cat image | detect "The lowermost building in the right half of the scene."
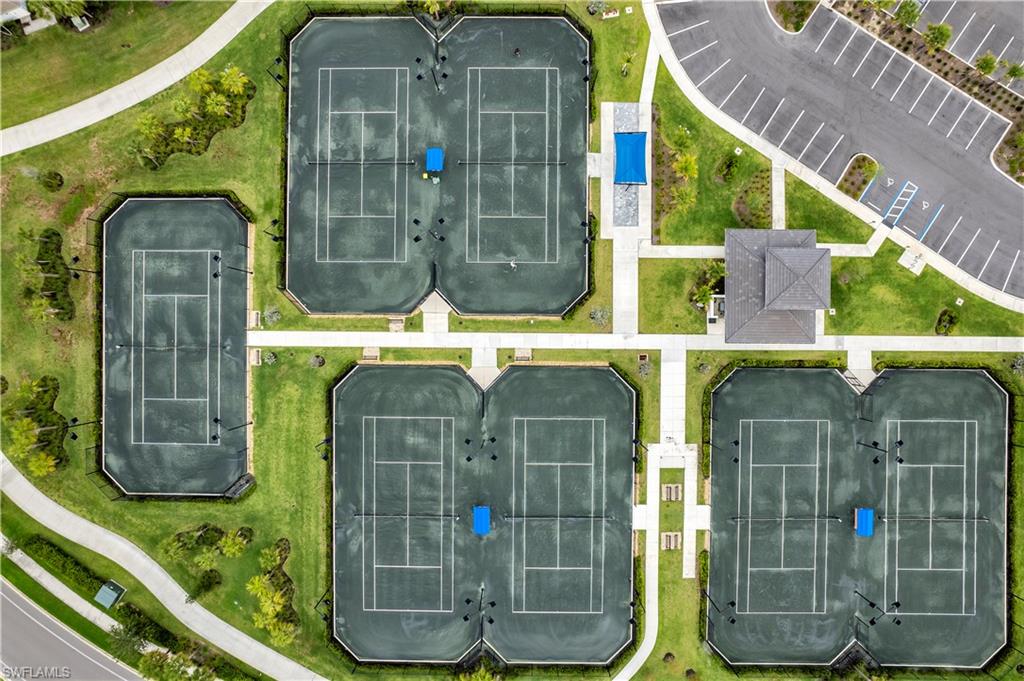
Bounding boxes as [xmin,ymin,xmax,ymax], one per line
[721,228,831,344]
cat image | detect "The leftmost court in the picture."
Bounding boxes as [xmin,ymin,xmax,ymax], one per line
[103,198,249,495]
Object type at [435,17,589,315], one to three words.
tennis court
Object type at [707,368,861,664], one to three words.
tennis court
